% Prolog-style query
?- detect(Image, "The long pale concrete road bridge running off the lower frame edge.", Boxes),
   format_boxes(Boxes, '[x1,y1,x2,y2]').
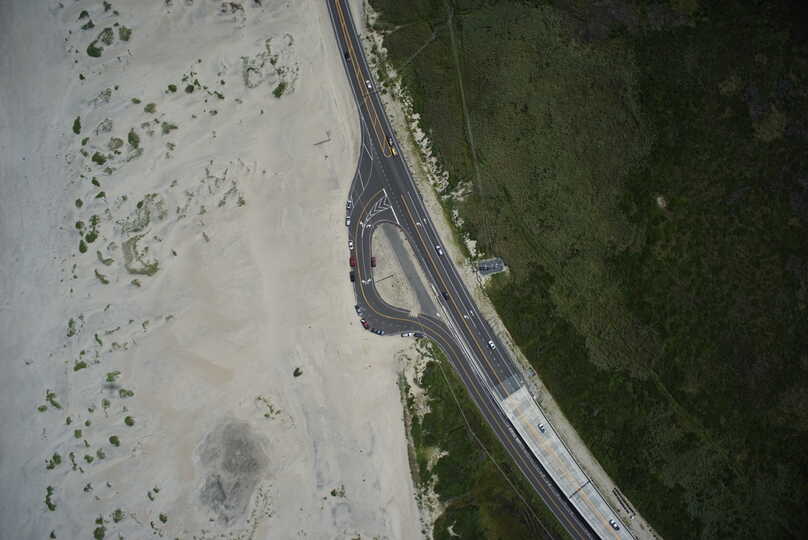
[501,387,635,540]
